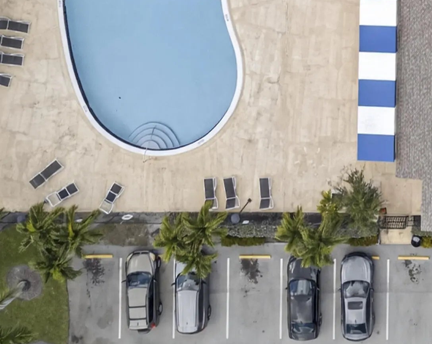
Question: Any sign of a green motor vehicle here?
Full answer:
No, no green motor vehicle is visible in the view.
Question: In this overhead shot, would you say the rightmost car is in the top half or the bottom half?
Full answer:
The rightmost car sits in the bottom half of the picture.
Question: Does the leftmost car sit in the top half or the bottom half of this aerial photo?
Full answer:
The leftmost car sits in the bottom half of the picture.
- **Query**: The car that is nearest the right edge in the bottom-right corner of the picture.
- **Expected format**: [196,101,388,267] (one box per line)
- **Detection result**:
[337,251,376,342]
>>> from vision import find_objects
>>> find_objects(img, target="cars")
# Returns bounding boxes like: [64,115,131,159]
[285,257,323,343]
[171,252,214,338]
[122,250,165,334]
[337,251,376,342]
